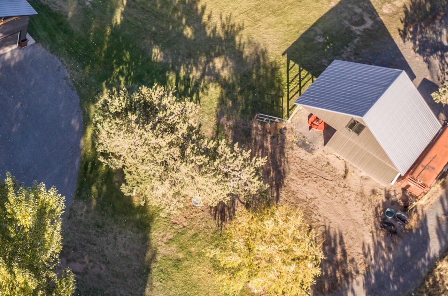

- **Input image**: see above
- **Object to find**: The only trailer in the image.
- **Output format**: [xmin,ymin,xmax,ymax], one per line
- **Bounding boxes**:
[394,126,448,206]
